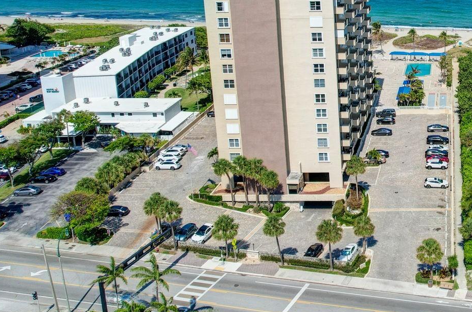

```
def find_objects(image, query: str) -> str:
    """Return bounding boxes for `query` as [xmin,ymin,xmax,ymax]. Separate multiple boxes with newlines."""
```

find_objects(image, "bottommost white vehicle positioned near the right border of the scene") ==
[424,176,450,189]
